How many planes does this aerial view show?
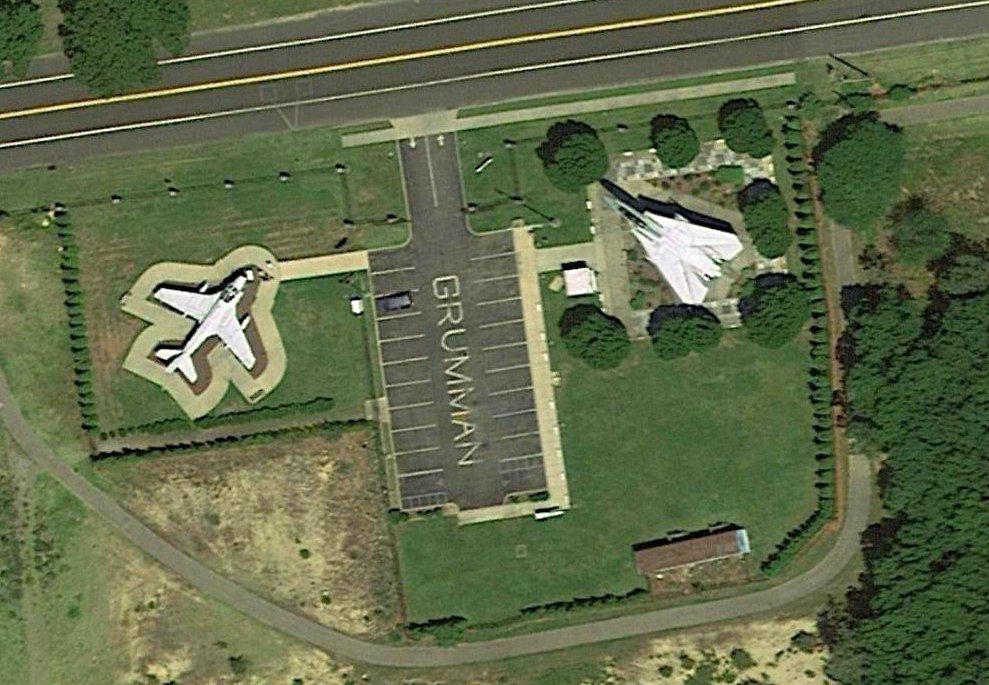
2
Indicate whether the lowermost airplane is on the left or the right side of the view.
left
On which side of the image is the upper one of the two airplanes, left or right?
right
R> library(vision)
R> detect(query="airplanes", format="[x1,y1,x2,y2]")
[153,275,253,382]
[604,197,742,305]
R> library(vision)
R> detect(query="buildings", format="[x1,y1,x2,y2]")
[563,268,602,297]
[635,530,751,574]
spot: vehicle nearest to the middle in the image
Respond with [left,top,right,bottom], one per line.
[377,293,414,311]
